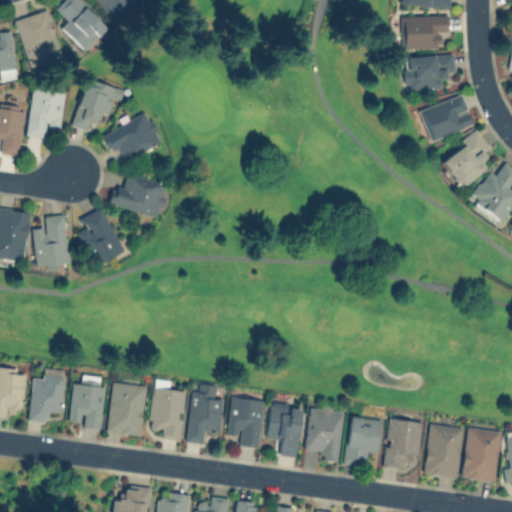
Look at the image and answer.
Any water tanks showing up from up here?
No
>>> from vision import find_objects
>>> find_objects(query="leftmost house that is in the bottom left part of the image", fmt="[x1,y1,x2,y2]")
[0,371,28,423]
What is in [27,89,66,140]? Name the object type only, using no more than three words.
house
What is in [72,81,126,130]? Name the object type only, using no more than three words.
house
